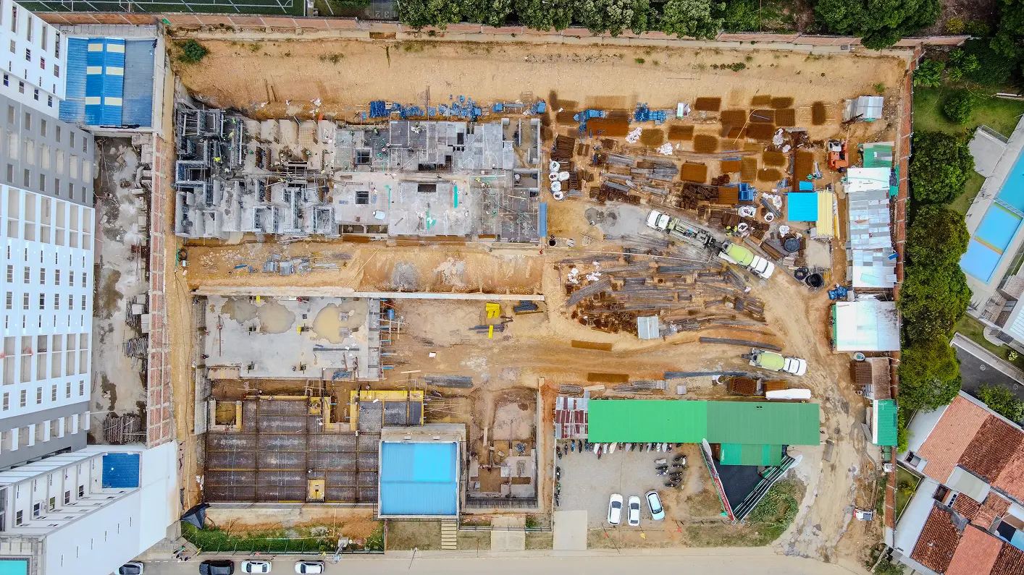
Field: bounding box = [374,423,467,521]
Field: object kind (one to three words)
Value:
building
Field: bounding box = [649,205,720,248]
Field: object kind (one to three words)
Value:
truck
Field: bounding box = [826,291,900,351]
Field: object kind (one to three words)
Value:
shed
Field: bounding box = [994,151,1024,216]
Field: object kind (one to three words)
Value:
swimming pool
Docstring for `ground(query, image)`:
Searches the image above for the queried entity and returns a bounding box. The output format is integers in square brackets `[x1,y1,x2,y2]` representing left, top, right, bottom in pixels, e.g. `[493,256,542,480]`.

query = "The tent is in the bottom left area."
[182,504,210,528]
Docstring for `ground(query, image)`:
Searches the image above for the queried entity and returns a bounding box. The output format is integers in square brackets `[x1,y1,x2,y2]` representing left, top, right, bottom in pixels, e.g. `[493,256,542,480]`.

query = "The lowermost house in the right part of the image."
[892,477,1024,575]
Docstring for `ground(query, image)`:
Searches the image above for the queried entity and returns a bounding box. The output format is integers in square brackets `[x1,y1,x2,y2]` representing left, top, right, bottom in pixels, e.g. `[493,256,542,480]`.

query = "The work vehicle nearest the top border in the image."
[829,106,870,170]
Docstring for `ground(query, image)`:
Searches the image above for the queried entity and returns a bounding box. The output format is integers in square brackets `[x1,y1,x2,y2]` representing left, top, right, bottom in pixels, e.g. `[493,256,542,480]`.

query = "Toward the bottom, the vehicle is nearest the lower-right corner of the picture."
[854,508,879,525]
